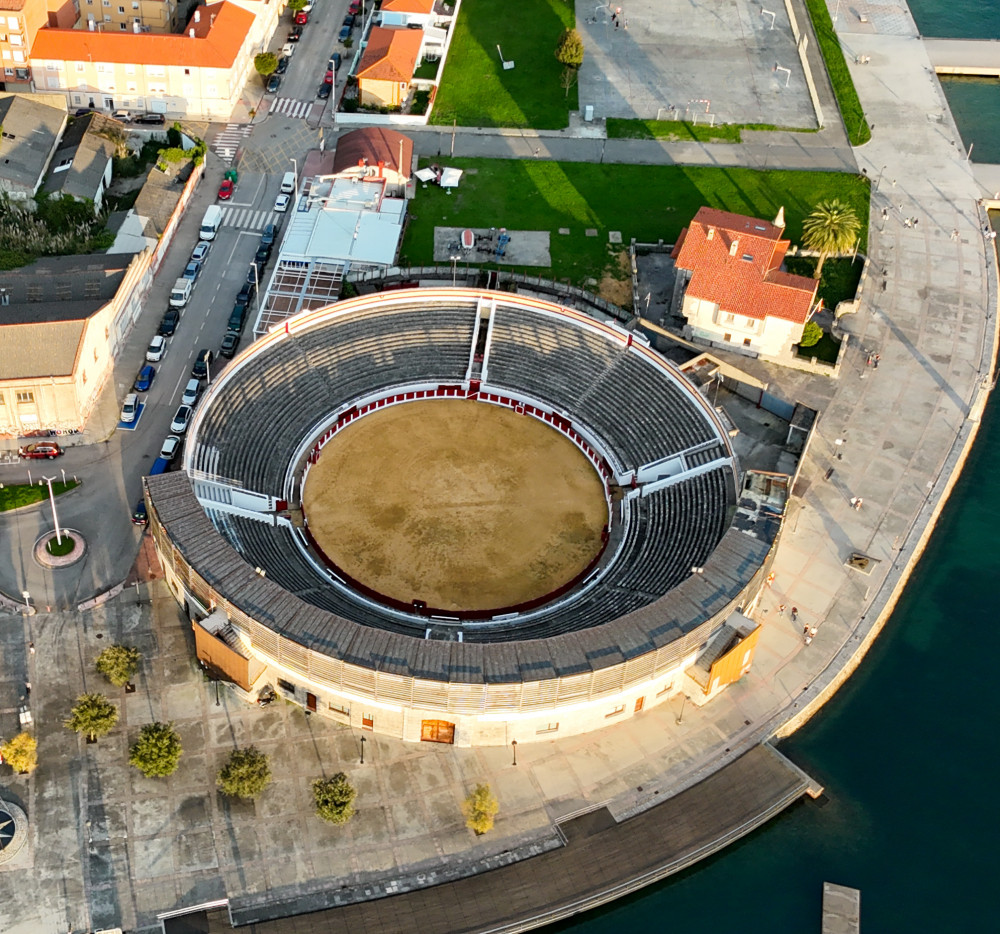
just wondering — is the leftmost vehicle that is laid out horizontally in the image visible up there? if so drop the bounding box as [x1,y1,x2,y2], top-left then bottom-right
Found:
[20,438,62,458]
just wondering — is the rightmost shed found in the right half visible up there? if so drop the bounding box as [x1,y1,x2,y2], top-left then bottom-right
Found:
[784,401,819,448]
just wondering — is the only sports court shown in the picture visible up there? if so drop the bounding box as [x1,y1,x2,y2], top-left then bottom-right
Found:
[573,0,815,124]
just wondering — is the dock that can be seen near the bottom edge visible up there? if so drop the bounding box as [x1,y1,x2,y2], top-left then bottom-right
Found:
[819,882,859,934]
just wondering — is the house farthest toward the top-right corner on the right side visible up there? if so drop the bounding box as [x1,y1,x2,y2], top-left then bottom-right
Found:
[670,206,818,355]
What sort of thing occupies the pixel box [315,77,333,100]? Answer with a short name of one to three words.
car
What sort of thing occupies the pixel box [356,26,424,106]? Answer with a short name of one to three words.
house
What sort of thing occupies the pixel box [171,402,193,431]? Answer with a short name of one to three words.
car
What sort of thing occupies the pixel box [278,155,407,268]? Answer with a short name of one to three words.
building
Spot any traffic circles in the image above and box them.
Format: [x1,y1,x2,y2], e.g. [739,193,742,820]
[30,526,90,571]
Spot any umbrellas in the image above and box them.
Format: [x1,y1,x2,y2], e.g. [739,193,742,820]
[411,164,440,191]
[437,170,466,194]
